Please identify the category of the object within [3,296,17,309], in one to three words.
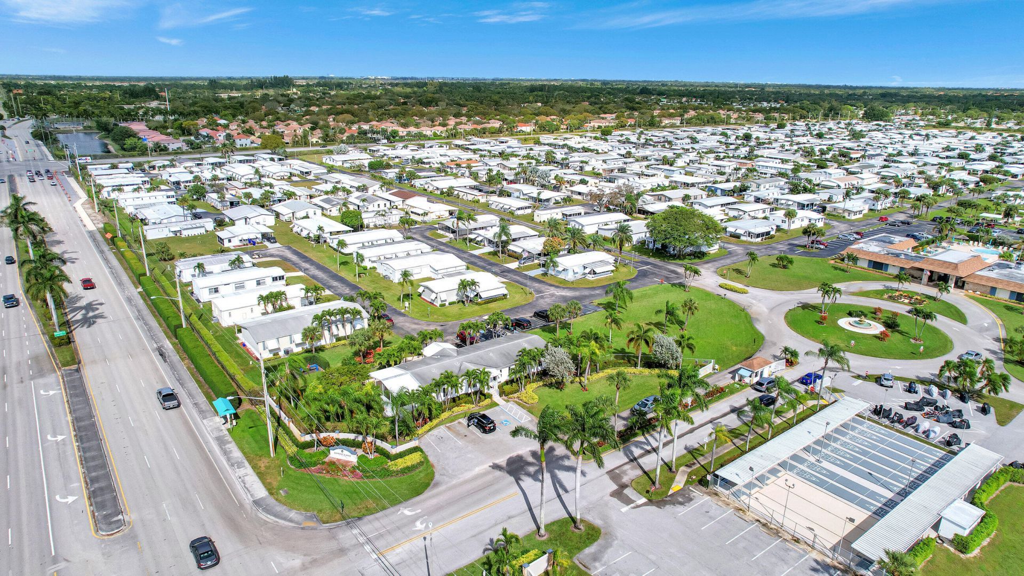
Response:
vehicle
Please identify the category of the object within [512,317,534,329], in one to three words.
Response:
vehicle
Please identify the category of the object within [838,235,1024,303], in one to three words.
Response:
building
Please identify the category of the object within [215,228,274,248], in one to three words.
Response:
house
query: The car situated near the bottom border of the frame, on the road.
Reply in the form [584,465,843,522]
[190,535,218,571]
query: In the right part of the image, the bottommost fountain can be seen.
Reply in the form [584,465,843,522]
[835,316,886,334]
